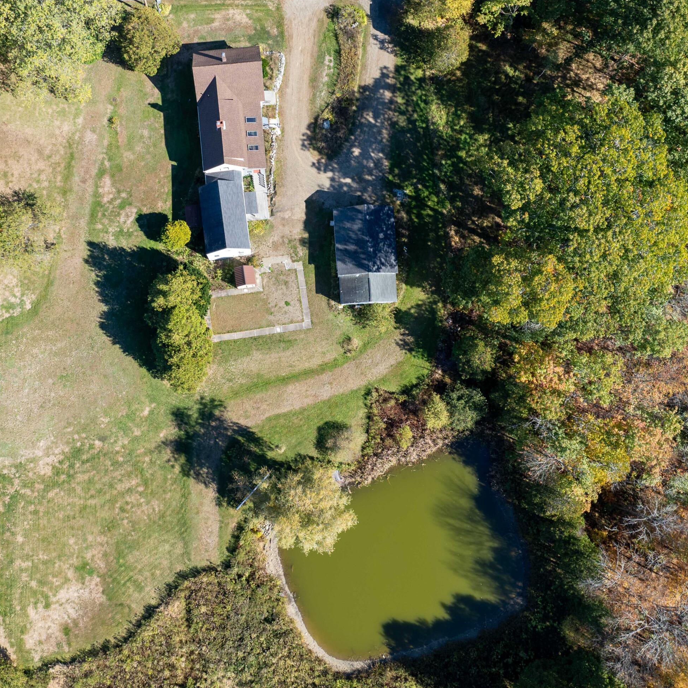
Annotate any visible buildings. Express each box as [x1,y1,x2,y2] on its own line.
[189,47,268,259]
[333,204,398,306]
[233,265,255,288]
